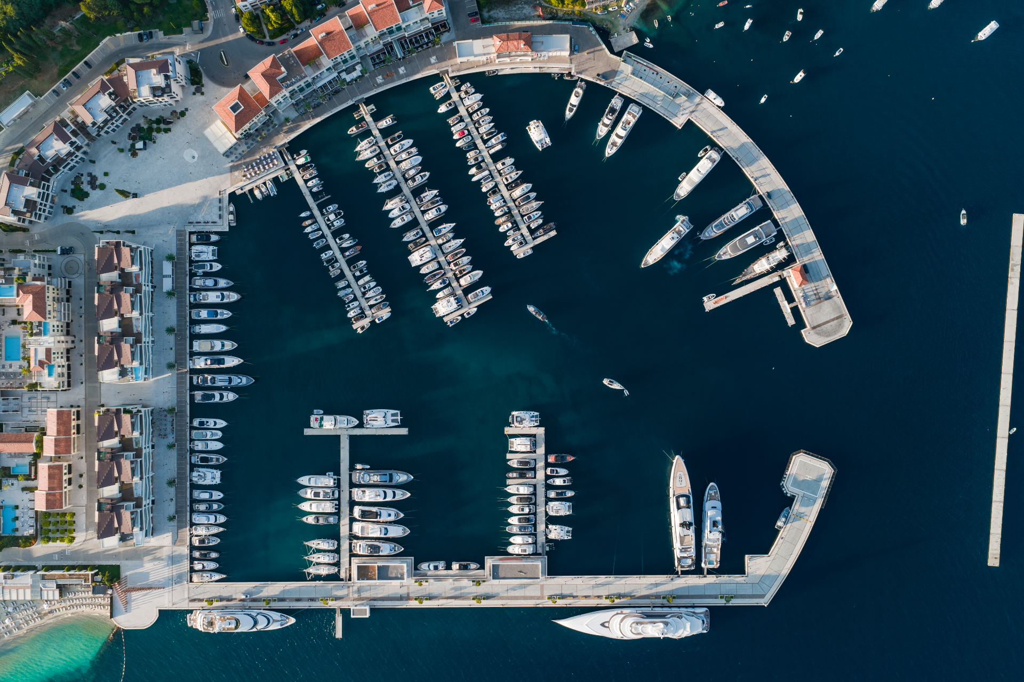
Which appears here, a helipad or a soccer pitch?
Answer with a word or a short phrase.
helipad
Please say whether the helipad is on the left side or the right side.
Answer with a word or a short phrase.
right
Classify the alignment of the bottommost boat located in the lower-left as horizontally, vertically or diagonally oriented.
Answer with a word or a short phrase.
horizontally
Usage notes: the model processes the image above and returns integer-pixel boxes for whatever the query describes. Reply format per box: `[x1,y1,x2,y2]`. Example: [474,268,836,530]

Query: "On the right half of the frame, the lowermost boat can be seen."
[552,594,710,639]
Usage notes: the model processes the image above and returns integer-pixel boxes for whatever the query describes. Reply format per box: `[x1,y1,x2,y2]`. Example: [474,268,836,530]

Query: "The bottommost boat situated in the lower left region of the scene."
[186,601,294,635]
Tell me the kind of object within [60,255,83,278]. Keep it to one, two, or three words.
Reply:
fountain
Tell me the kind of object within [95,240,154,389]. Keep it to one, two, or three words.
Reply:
building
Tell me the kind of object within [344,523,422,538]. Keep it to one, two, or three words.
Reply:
boat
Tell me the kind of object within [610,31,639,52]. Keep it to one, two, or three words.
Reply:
pier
